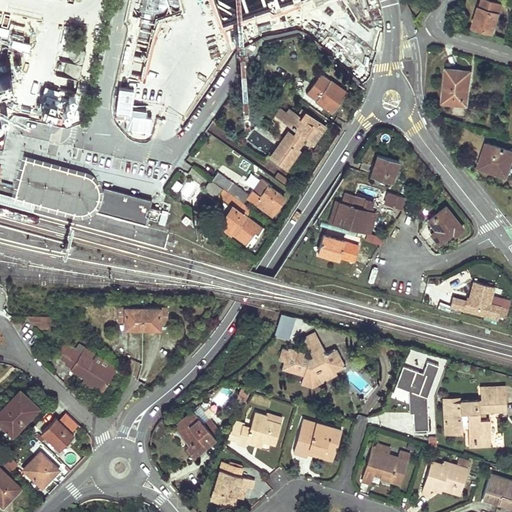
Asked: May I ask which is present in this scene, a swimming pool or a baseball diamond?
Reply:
swimming pool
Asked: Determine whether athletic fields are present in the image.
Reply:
No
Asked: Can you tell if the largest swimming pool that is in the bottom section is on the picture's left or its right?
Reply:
right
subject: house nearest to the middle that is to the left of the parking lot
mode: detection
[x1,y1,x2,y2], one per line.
[223,208,263,247]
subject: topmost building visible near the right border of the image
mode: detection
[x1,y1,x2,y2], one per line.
[472,0,504,36]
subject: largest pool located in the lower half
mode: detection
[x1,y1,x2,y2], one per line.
[347,370,370,392]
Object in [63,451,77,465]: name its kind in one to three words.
swimming pool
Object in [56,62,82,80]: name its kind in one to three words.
building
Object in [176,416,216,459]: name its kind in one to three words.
house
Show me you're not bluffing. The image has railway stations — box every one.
[12,153,102,221]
